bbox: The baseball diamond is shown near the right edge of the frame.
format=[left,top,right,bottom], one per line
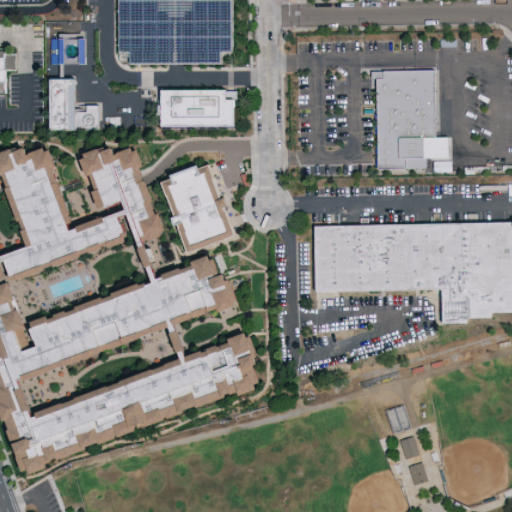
[442,438,509,504]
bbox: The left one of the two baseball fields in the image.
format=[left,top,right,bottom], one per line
[350,470,408,512]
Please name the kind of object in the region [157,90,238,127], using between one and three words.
building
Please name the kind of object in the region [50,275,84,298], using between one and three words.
swimming pool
